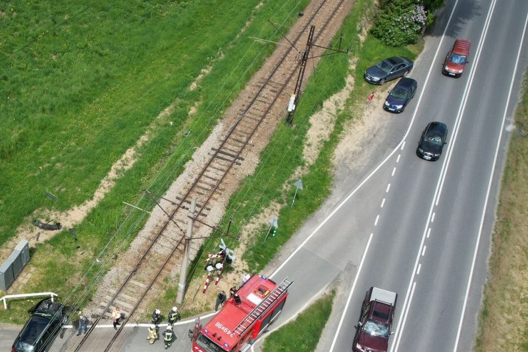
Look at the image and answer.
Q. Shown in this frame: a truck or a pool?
truck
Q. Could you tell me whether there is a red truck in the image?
Yes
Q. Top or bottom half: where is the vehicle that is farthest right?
top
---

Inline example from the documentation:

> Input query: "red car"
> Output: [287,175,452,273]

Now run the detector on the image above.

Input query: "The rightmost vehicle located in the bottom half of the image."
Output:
[356,288,409,352]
